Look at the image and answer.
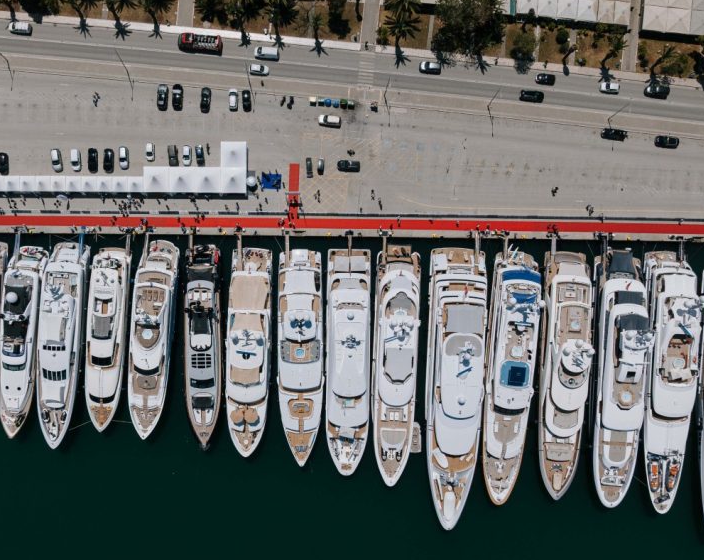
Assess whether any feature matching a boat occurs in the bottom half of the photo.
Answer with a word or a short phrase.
Yes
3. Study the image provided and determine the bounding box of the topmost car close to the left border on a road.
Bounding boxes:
[8,20,32,34]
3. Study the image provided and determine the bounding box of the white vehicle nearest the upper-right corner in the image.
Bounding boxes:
[599,80,622,92]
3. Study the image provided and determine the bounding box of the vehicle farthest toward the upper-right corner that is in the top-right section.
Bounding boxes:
[646,83,672,96]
